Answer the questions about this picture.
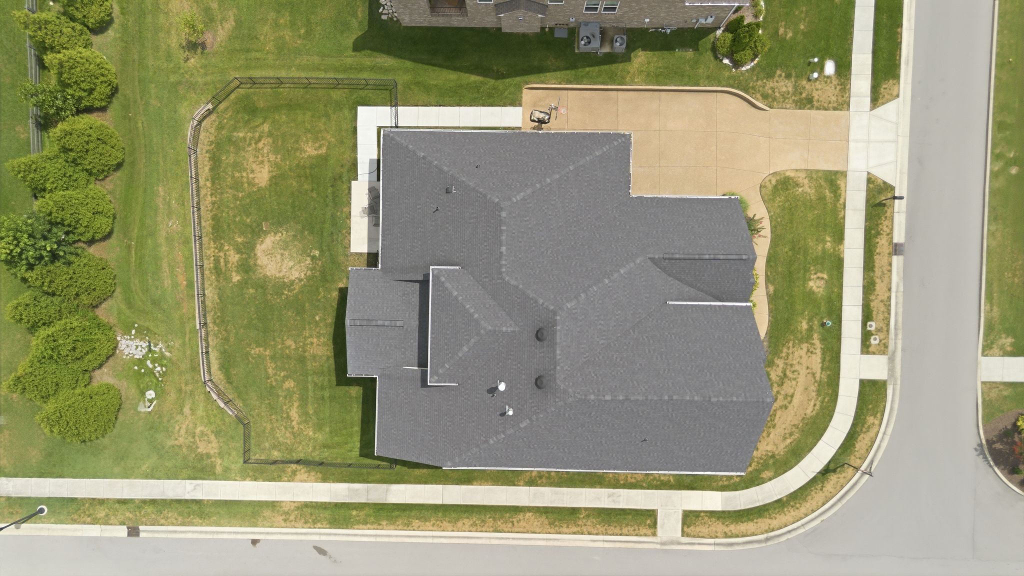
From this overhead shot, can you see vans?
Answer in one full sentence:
No, no van is visible in the view.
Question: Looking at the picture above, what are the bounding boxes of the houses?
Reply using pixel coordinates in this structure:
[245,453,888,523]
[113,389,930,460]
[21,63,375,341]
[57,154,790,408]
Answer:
[382,0,749,32]
[345,127,775,475]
